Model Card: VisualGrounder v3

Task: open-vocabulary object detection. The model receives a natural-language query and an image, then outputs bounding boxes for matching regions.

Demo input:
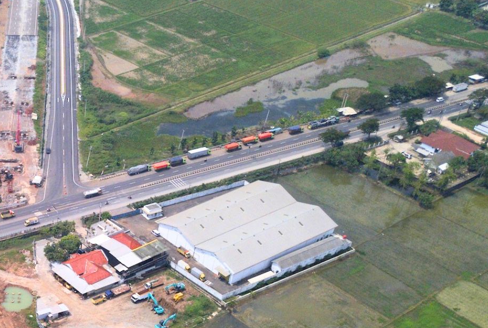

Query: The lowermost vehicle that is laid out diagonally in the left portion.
[153,312,175,328]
